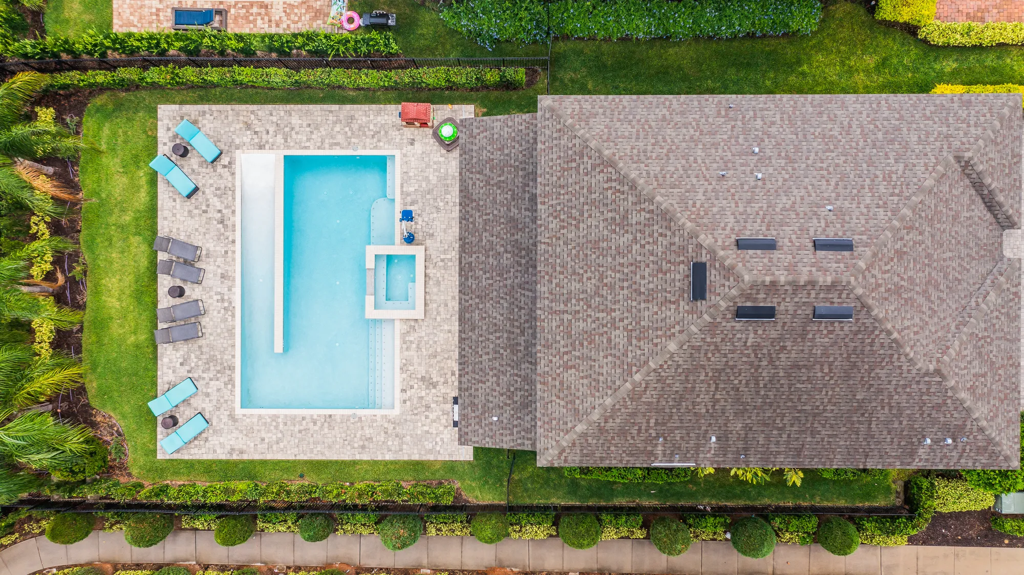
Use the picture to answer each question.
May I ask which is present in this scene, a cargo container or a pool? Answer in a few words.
pool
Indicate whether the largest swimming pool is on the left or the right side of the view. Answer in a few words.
left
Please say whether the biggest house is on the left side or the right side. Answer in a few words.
right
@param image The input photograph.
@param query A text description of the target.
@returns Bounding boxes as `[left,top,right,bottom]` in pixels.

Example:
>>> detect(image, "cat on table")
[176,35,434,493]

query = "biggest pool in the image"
[236,145,400,419]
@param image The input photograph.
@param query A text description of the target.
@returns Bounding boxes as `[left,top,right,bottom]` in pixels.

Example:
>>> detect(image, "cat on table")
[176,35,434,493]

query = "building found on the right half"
[459,93,1023,468]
